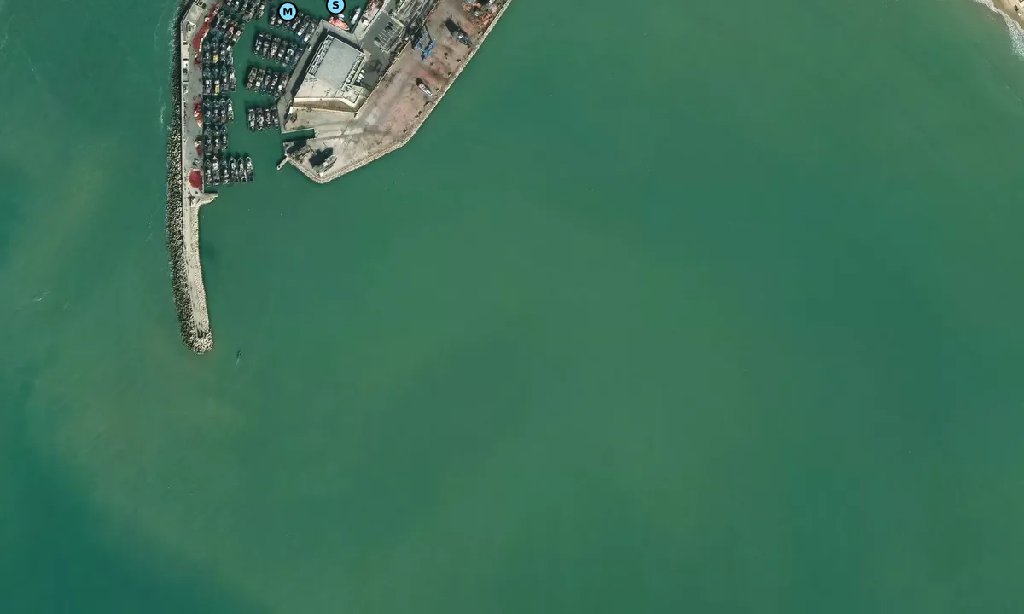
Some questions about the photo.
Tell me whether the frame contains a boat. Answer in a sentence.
Yes, the photo shows a boat.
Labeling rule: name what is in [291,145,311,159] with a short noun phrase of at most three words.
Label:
vessel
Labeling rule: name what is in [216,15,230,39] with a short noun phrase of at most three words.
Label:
boat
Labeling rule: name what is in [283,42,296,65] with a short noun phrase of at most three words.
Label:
boat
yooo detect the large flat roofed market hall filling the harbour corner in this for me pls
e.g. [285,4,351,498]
[294,34,366,108]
